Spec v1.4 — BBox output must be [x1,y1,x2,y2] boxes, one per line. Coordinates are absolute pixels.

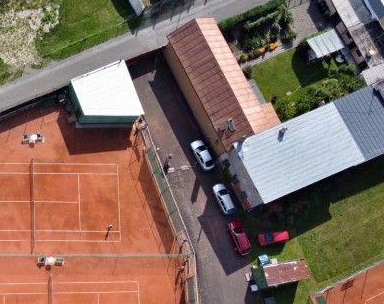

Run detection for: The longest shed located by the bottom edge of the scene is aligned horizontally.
[245,258,311,290]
